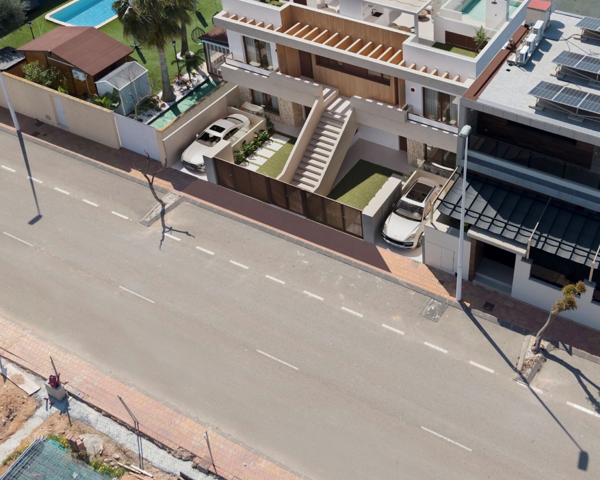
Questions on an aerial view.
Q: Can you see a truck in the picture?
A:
No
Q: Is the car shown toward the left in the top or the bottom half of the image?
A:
top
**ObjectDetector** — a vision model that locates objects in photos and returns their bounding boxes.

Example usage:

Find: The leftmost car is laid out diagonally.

[184,111,257,170]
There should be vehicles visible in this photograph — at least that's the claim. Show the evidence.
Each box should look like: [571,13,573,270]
[184,111,257,170]
[386,169,456,246]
